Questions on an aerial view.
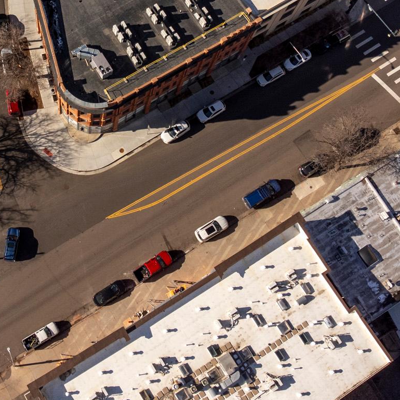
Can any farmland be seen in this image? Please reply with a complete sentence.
No, farmland can't be seen anywhere here.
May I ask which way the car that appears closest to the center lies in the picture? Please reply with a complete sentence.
From this overhead view, the car that appears closest to the center appears to run diagonally.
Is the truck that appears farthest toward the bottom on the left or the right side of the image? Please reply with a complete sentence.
It is on the left.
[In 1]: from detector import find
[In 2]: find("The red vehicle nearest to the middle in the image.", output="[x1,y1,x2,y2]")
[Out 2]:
[131,248,175,286]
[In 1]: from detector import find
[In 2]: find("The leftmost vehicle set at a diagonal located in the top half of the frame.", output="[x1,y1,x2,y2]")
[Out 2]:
[159,117,193,146]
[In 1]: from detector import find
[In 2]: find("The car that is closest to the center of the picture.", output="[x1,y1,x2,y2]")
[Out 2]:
[194,215,230,244]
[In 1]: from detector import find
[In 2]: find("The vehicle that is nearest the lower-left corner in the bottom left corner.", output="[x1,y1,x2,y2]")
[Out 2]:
[17,318,63,357]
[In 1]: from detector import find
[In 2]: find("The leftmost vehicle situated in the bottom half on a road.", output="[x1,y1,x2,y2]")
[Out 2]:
[2,224,22,266]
